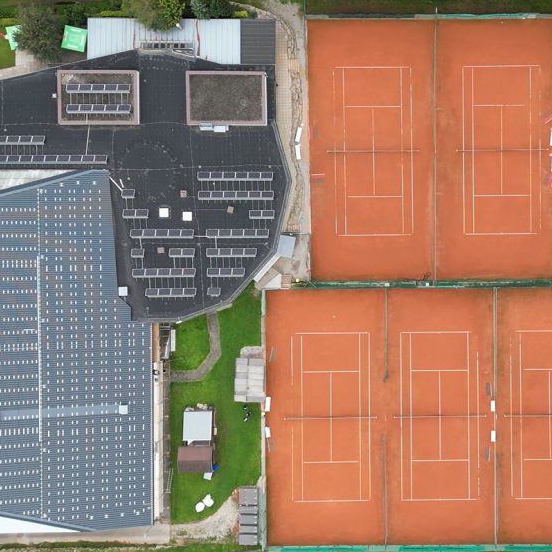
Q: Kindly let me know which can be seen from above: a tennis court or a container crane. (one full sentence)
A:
The one in the frame is a tennis court.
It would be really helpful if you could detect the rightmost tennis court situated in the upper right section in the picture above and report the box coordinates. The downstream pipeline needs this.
[436,18,552,281]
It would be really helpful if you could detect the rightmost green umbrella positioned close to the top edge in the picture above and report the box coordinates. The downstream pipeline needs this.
[63,27,88,52]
